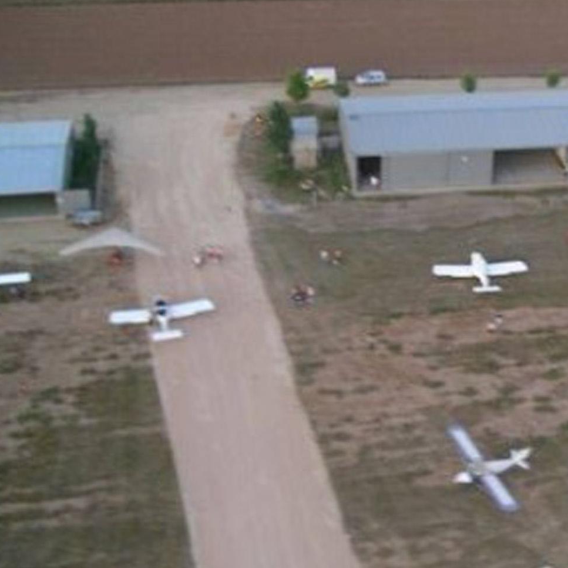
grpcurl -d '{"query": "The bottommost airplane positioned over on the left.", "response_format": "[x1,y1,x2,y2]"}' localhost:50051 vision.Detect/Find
[107,294,216,337]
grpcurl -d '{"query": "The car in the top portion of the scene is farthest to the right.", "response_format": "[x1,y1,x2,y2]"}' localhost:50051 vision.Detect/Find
[357,72,387,85]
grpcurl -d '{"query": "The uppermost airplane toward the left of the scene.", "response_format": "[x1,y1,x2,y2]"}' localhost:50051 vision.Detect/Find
[58,230,162,270]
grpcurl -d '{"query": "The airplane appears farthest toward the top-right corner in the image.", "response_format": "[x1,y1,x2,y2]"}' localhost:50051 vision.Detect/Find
[432,253,528,291]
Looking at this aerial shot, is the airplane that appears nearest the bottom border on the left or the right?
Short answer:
right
